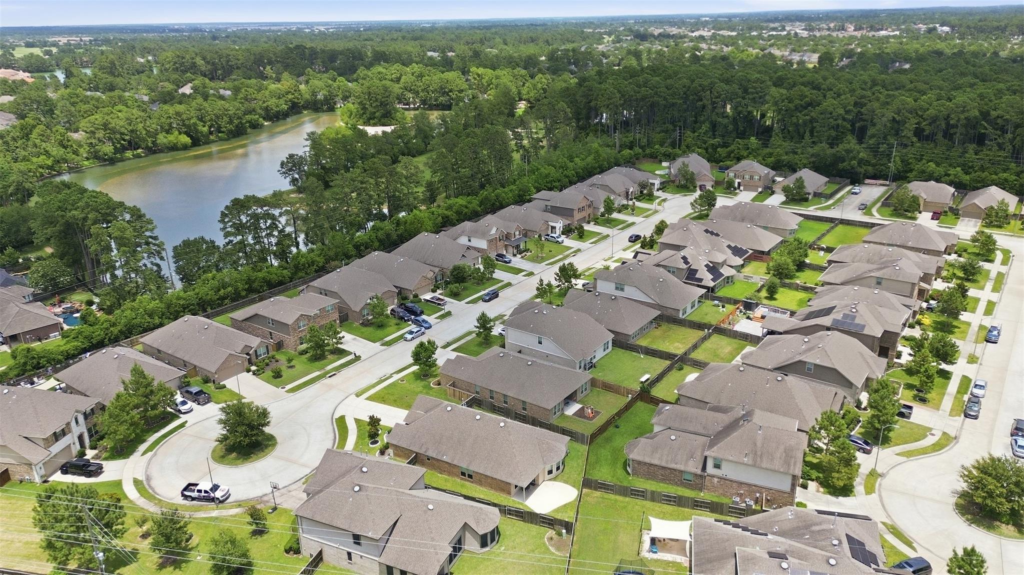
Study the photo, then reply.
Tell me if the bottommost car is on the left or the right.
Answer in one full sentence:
The bottommost car is on the right side of the image.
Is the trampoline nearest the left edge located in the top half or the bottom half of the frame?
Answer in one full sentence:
You can find the trampoline nearest the left edge in the bottom half.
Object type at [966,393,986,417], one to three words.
car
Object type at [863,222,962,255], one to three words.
house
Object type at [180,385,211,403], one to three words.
vehicle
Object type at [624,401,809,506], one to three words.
house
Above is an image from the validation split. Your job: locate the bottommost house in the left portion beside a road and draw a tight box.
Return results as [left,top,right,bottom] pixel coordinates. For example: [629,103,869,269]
[292,450,501,575]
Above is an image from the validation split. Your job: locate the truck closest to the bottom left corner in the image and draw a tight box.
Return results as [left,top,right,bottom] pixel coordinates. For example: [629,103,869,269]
[56,453,103,474]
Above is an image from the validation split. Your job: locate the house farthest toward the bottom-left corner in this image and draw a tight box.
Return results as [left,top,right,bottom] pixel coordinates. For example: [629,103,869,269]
[0,388,106,481]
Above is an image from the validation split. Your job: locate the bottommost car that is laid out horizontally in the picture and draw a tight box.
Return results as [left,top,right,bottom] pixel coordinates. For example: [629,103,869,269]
[885,549,937,575]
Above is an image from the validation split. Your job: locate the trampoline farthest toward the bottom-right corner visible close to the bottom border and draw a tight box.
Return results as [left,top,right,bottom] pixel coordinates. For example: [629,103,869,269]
[606,549,643,575]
